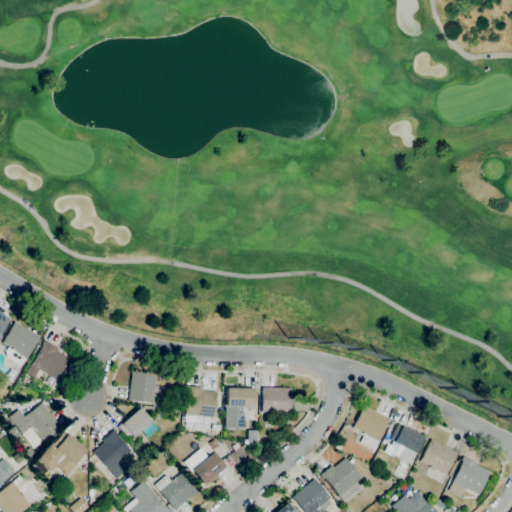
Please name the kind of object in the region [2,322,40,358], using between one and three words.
house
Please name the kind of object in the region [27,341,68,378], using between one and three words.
house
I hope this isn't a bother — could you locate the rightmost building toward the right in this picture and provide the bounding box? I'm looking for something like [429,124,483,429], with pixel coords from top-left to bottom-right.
[453,456,492,499]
